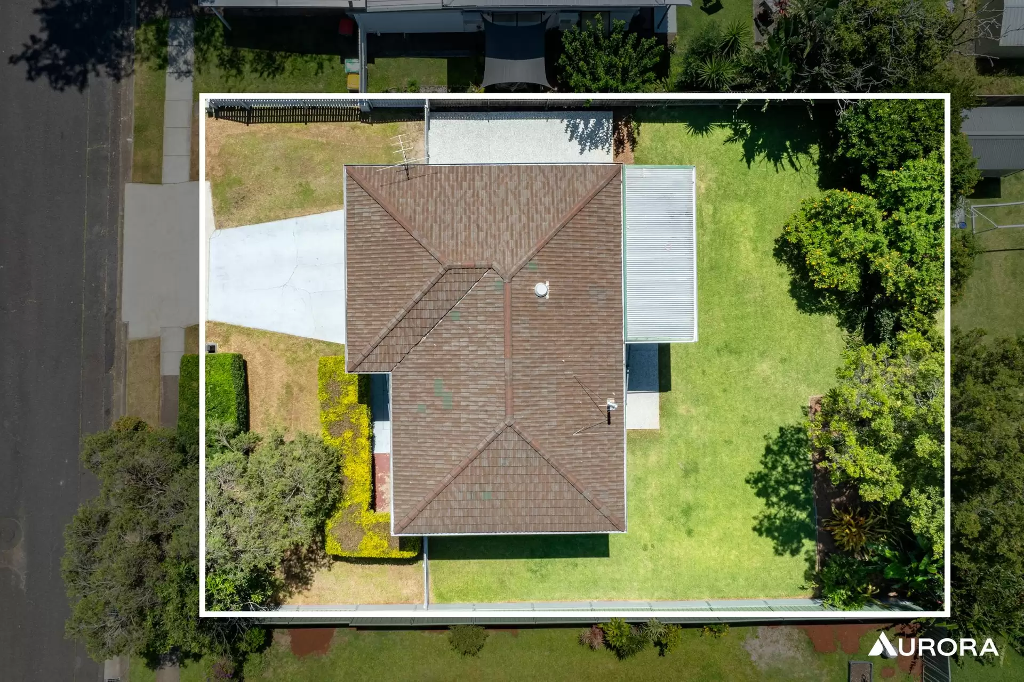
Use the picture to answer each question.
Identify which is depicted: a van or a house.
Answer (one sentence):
The one in the frame is a house.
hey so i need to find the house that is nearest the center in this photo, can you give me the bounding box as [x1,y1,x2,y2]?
[342,160,628,537]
